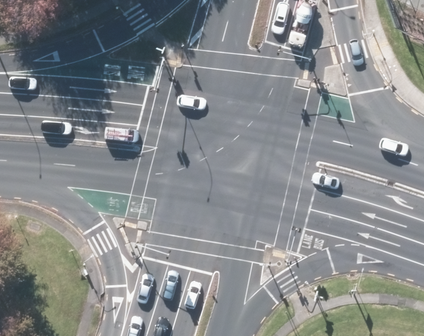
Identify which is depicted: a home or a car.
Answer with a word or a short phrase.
car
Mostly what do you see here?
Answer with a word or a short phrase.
paved ground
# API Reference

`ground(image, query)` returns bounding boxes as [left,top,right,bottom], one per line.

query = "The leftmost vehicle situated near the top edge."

[272,2,290,34]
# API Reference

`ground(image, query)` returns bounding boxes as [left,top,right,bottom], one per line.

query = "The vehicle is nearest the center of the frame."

[176,94,206,110]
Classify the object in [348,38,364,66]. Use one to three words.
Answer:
car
